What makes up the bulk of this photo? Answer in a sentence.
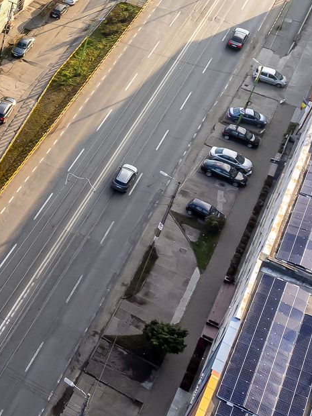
The scene is dominated by paved ground.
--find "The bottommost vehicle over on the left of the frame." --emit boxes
[109,163,140,196]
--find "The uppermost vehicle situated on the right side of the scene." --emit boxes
[227,28,249,50]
